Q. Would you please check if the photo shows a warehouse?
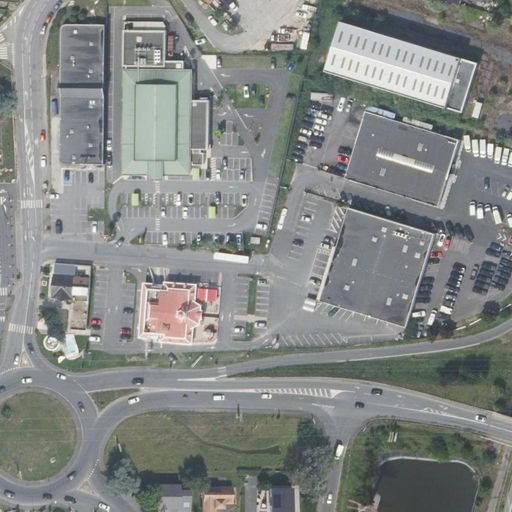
Yes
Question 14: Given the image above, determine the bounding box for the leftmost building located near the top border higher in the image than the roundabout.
[58,24,105,168]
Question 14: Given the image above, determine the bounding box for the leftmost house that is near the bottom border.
[159,483,194,512]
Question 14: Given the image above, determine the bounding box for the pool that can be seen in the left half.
[66,334,78,360]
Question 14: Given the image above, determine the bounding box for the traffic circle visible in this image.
[0,368,100,504]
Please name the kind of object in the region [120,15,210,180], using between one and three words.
building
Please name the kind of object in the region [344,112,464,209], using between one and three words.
building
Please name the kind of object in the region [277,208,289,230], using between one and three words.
vehicle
